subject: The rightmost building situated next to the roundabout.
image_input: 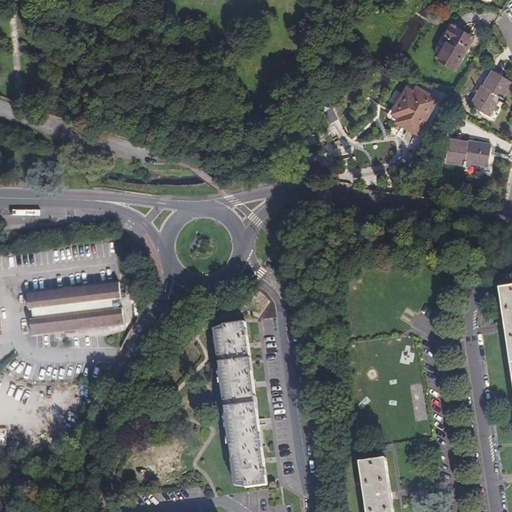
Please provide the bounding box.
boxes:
[212,320,270,488]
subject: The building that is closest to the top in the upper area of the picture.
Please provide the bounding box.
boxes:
[436,24,471,70]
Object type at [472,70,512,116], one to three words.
house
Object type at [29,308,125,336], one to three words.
shed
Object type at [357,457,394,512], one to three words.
building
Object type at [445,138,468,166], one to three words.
house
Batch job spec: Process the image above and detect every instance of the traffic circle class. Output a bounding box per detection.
[158,200,250,291]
